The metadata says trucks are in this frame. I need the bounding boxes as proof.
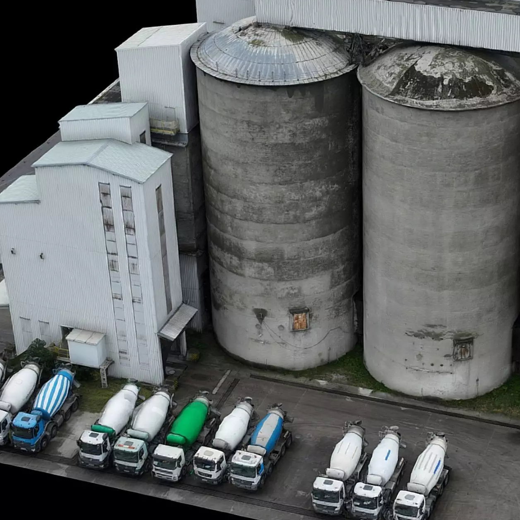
[11,366,82,454]
[231,398,292,491]
[0,361,46,449]
[310,421,369,517]
[113,387,178,478]
[76,380,145,471]
[392,435,450,520]
[152,391,216,483]
[193,394,259,487]
[350,426,406,520]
